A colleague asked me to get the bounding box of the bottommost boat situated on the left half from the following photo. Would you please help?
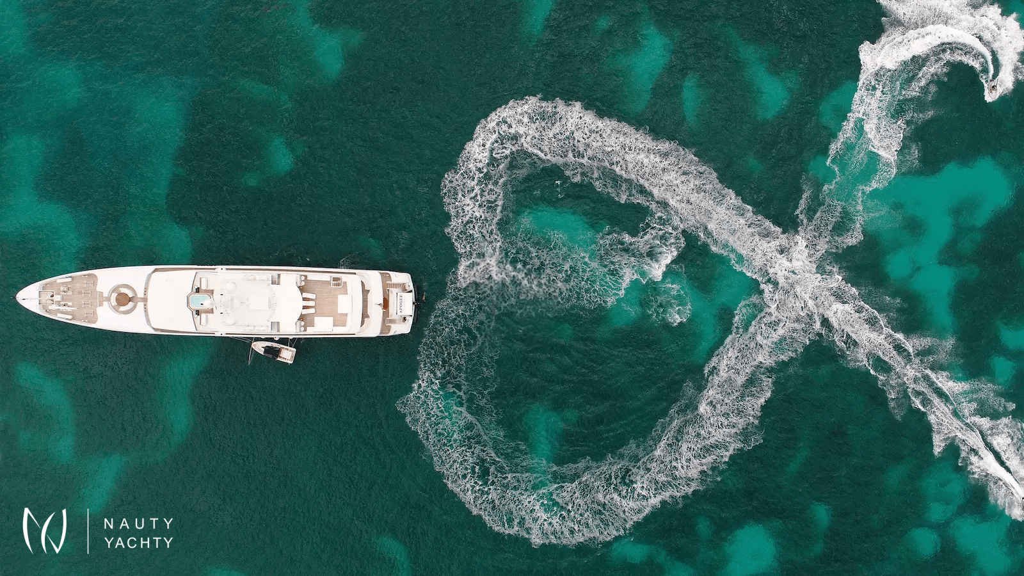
[252,341,296,367]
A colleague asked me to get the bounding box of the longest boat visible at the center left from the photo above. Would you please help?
[14,265,425,366]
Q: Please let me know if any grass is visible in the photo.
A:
No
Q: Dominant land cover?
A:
water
